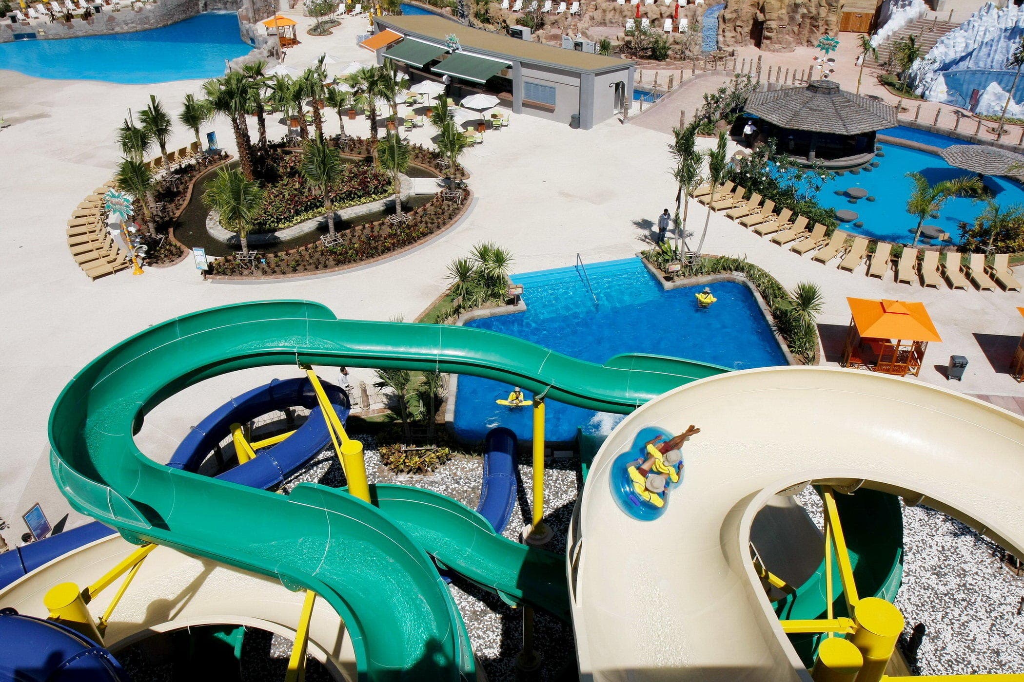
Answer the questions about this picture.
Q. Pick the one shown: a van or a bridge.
bridge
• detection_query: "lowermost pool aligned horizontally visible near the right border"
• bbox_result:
[734,129,1024,246]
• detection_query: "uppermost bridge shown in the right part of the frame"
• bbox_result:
[620,69,775,137]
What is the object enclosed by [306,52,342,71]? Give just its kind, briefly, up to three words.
umbrella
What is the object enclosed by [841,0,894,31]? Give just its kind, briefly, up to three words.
building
